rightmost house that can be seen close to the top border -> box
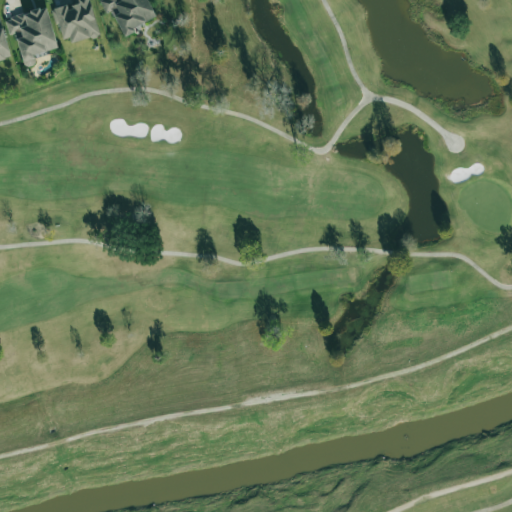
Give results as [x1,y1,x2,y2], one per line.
[107,0,156,36]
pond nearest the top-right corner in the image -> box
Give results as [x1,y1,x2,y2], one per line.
[361,0,491,104]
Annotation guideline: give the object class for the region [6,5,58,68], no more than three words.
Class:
house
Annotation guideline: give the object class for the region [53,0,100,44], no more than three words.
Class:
house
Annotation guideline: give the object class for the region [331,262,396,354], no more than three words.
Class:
pond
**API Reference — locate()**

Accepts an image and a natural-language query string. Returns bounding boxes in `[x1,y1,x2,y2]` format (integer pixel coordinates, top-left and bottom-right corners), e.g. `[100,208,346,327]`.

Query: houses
[53,0,100,44]
[107,0,156,36]
[6,5,58,68]
[0,26,12,63]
